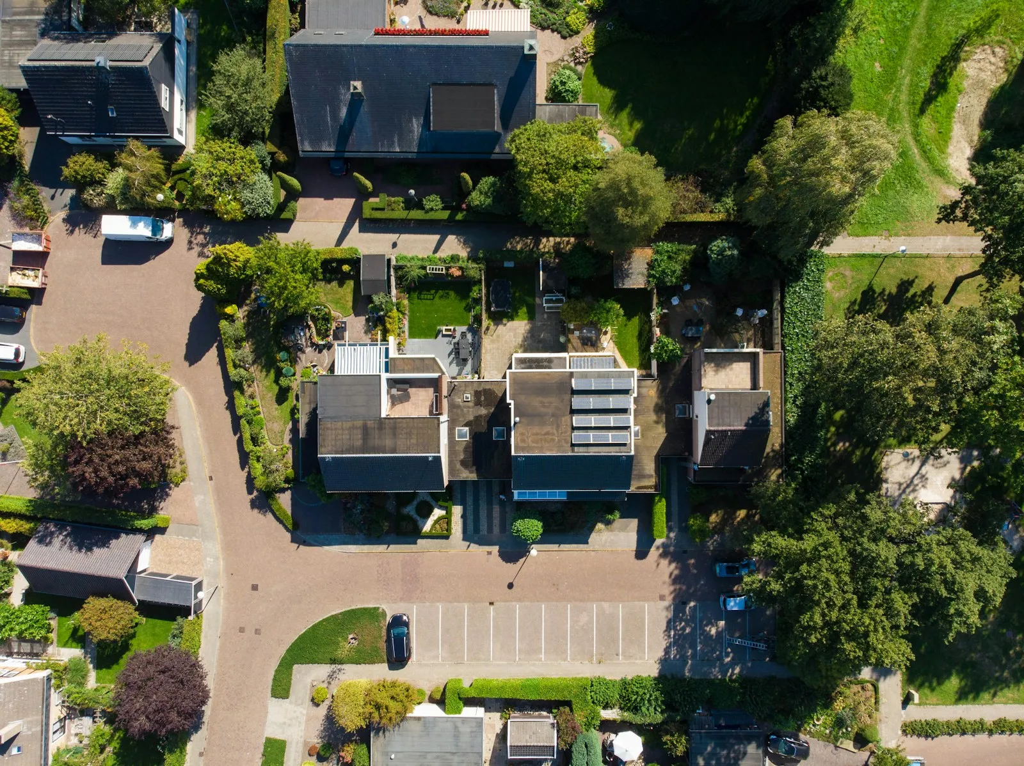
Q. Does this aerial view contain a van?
Yes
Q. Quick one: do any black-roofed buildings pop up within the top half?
Yes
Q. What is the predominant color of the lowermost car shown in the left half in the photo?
black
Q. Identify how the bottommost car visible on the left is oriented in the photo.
from top to bottom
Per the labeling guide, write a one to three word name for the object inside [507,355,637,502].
house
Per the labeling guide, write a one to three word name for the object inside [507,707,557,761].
shed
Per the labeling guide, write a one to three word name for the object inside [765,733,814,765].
car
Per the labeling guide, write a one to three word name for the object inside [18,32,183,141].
house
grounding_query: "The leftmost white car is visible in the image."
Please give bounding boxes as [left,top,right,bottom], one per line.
[0,342,21,363]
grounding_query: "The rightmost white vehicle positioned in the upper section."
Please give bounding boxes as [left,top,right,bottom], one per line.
[101,215,173,243]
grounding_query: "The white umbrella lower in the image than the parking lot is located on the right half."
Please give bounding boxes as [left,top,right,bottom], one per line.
[611,729,640,759]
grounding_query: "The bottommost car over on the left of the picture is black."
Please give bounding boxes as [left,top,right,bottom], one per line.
[383,615,409,666]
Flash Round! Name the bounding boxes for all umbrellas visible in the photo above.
[399,17,411,27]
[611,729,640,759]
